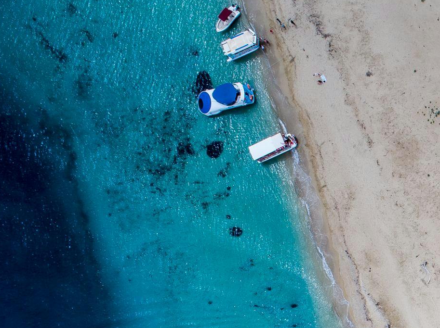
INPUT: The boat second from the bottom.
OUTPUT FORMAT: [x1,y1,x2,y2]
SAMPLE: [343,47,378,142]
[204,86,255,118]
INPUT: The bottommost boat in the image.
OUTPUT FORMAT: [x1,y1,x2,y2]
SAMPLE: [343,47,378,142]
[249,133,301,166]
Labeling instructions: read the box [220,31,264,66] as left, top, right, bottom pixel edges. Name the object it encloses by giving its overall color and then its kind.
white boat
